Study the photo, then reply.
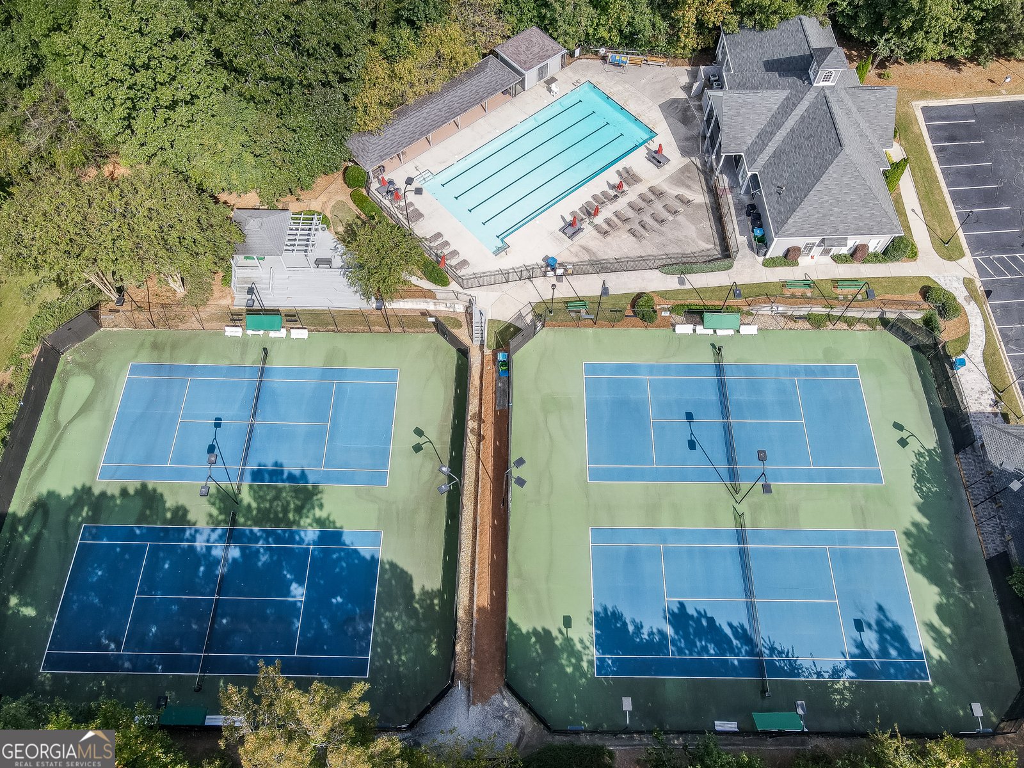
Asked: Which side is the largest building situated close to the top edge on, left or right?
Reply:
right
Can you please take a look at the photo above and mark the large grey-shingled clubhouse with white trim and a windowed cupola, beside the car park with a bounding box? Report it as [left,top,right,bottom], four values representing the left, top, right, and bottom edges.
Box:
[700,22,905,257]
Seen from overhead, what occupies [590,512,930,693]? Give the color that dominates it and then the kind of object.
blue tennis court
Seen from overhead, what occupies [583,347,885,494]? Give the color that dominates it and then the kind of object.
blue tennis court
